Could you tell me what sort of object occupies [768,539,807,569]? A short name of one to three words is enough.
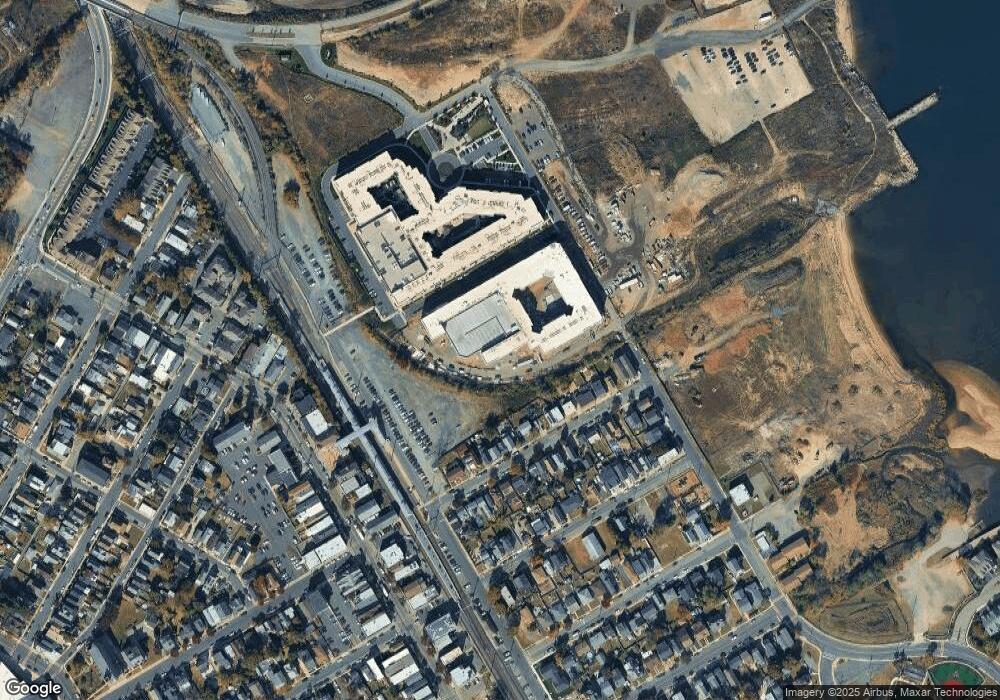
house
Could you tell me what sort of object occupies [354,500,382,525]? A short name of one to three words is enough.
building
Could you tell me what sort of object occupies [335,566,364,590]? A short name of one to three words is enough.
building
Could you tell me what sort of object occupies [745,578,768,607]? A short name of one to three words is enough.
house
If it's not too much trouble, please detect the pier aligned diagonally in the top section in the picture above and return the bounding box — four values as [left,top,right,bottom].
[882,94,939,131]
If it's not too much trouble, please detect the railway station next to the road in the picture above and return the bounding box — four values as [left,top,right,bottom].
[293,324,463,607]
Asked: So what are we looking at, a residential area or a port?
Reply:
residential area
